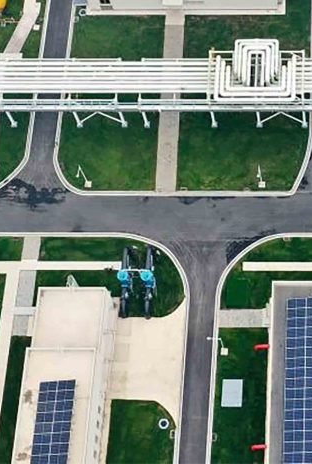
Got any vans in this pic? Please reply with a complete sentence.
No, this view has no van in it.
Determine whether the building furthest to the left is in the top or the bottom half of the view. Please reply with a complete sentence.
The building furthest to the left sits in the bottom half of the picture.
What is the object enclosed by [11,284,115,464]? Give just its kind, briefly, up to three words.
building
